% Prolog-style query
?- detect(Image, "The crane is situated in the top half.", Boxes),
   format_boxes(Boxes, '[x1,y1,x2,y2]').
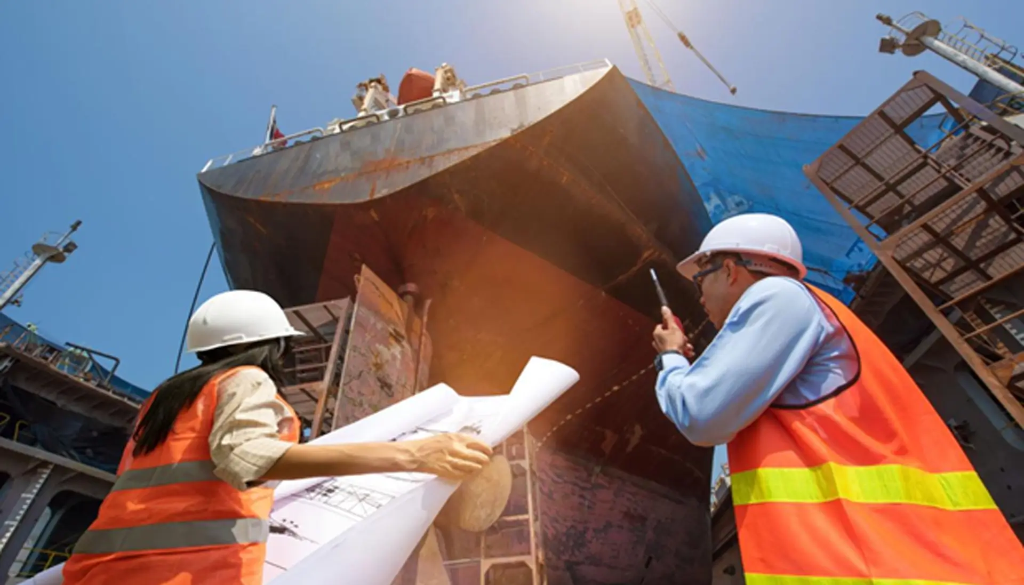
[613,0,738,96]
